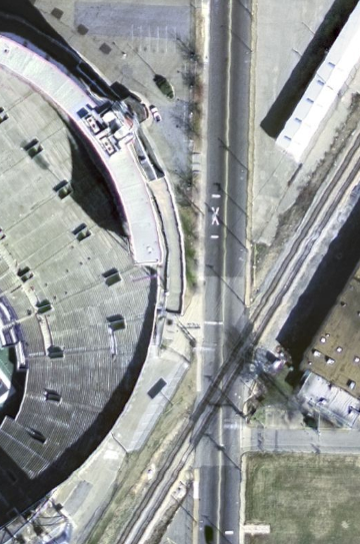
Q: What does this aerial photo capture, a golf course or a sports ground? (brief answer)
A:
sports ground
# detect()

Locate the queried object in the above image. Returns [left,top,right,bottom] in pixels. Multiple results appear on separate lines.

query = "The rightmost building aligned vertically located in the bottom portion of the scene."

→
[297,263,360,402]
